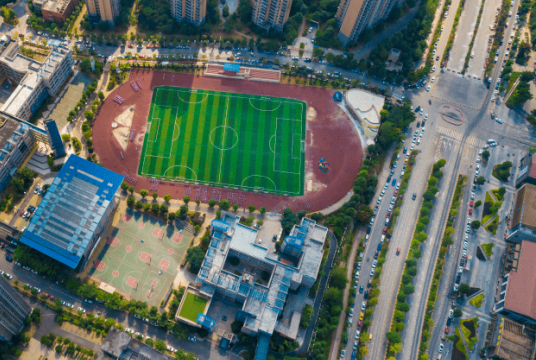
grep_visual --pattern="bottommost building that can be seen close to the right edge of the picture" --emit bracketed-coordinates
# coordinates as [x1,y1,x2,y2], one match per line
[485,316,536,360]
